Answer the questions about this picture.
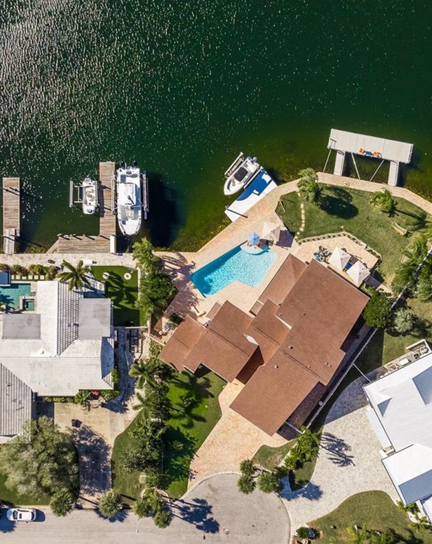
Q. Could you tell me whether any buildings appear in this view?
Yes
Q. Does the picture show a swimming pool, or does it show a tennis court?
swimming pool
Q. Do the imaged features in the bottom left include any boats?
No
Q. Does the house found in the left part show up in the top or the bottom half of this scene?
bottom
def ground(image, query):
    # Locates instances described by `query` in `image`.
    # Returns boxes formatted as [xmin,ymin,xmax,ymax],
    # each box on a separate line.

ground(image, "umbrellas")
[248,233,260,245]
[329,248,351,270]
[261,220,285,244]
[347,262,370,283]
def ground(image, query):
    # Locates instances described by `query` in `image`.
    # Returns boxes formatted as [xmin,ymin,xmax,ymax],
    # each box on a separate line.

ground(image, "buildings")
[159,254,371,437]
[361,350,432,521]
[0,281,115,444]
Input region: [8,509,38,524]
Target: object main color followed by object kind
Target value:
white car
